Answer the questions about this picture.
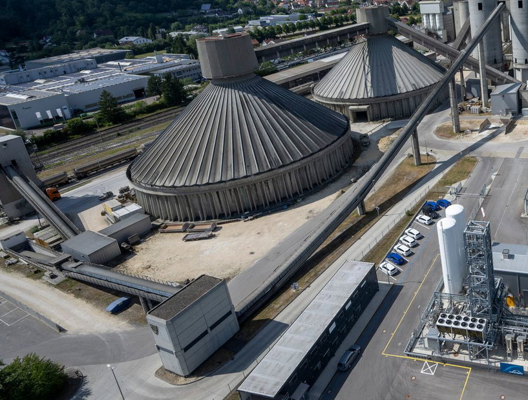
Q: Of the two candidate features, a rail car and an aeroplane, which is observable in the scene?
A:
rail car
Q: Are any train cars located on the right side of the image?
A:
No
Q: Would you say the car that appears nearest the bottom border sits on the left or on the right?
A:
right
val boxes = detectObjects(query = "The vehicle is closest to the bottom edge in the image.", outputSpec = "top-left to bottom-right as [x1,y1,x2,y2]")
[336,345,360,375]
